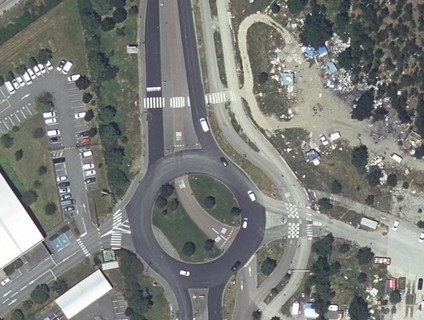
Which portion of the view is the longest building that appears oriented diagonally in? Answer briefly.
bottom left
